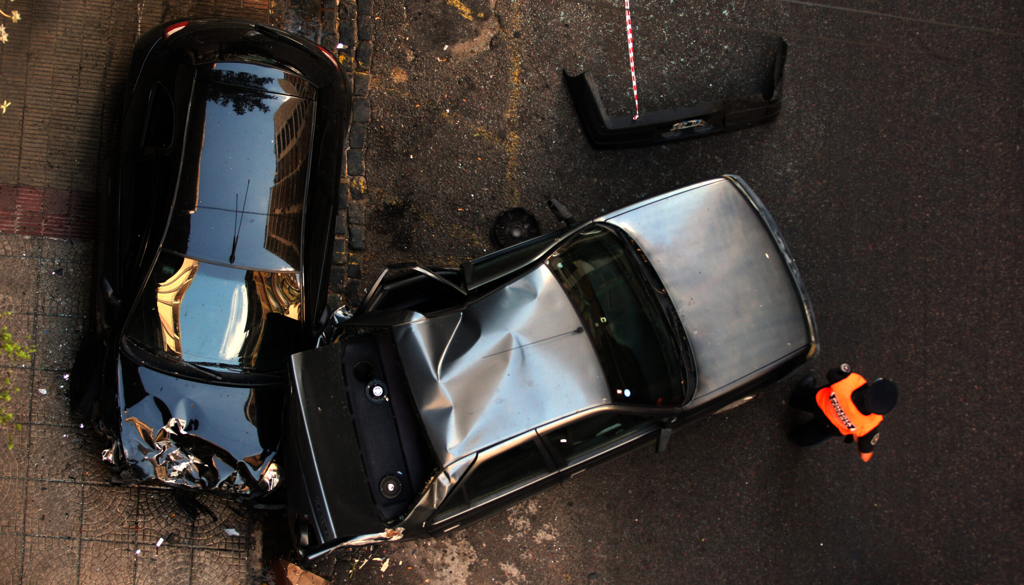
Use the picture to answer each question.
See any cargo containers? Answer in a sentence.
No, there appears to be no cargo container in this shot.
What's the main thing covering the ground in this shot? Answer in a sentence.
The bulk of the photo consists of paved ground.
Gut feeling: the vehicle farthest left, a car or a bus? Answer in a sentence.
I'd say the vehicle farthest left is a car.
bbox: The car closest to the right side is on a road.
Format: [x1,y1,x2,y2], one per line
[283,172,821,564]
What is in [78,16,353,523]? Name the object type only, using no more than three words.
car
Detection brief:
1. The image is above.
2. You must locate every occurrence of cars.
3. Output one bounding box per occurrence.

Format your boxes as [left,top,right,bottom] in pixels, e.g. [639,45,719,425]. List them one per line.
[283,172,821,564]
[78,16,353,523]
